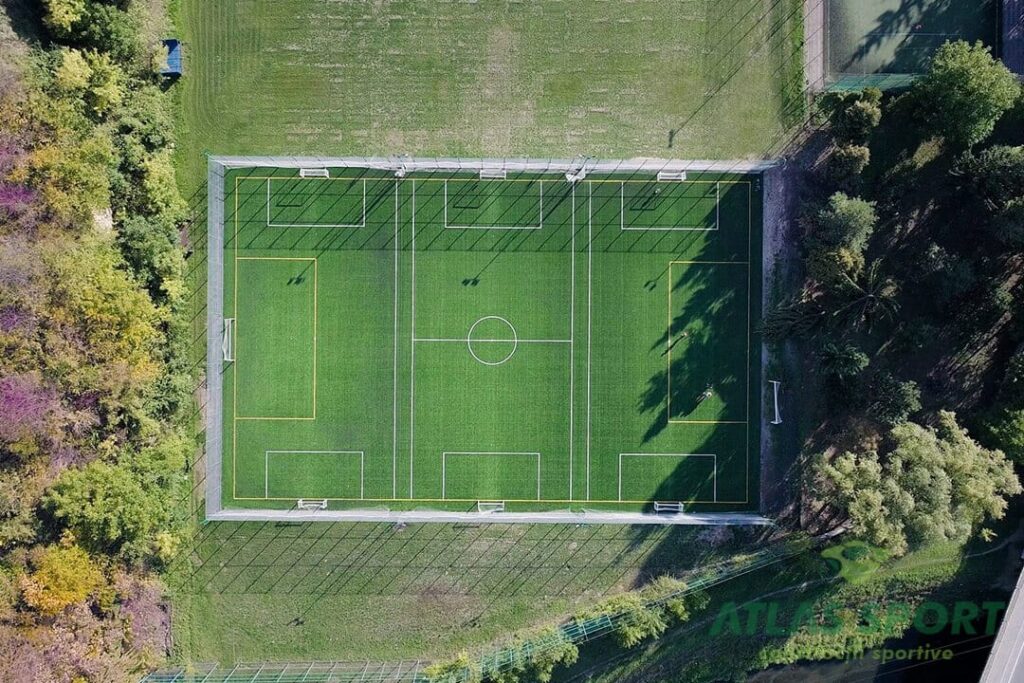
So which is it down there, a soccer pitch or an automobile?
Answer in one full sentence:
Of the two, only a soccer pitch appears.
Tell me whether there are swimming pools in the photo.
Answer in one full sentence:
No, the photo shows no swimming pool.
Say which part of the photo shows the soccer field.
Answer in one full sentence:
Look in the center portion of the view to spot the soccer field.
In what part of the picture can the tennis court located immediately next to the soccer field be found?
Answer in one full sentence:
The tennis court located immediately next to the soccer field is located in the top right region of the scene.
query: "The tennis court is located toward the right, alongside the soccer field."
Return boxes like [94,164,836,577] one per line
[823,0,1001,90]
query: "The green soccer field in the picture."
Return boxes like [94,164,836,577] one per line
[205,155,773,525]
